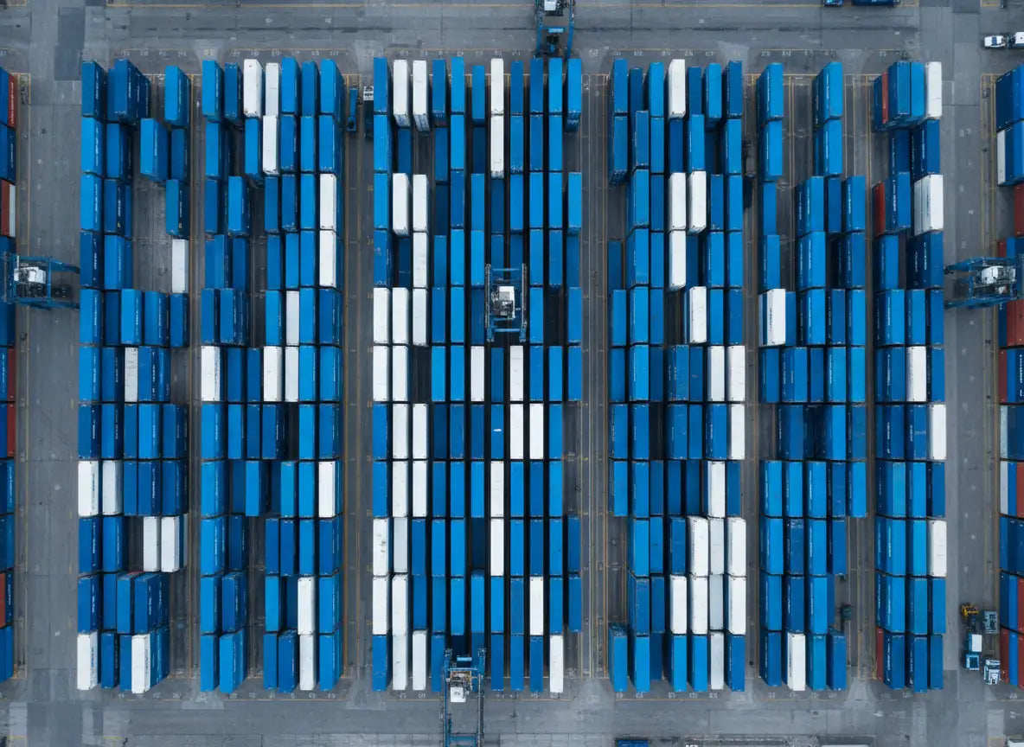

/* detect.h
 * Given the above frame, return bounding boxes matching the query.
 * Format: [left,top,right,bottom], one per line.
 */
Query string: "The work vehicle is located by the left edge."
[0,252,80,309]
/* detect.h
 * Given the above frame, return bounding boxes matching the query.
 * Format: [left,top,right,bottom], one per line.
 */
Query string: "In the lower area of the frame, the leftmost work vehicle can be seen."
[442,632,486,747]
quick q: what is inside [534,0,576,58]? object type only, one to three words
work vehicle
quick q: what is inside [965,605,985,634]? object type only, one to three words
work vehicle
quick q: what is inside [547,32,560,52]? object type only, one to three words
vehicle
